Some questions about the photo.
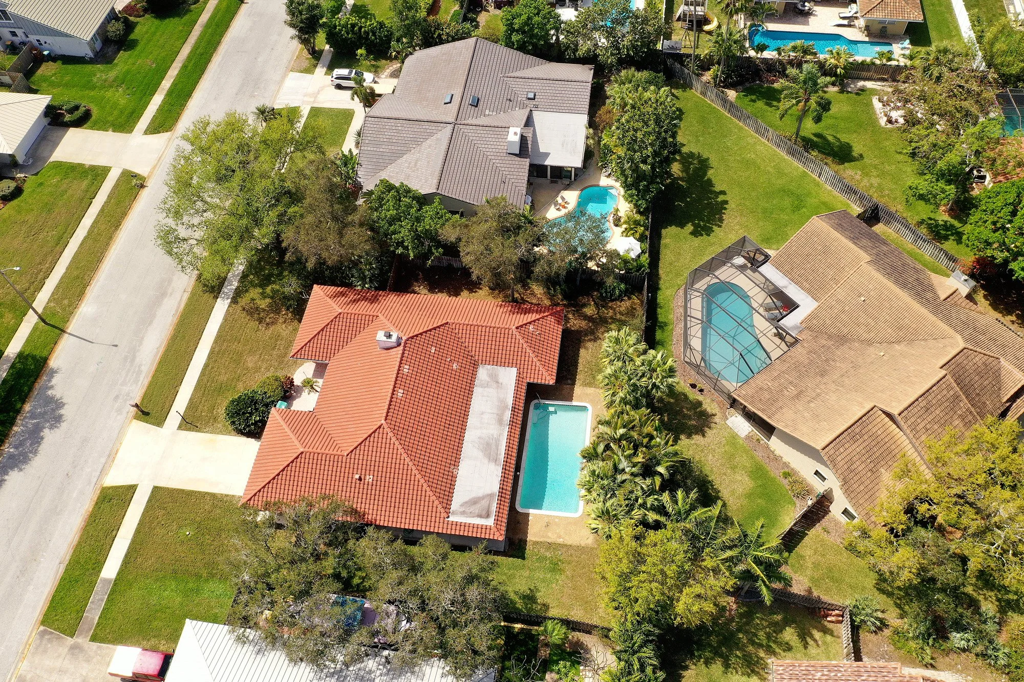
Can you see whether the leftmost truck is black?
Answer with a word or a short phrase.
No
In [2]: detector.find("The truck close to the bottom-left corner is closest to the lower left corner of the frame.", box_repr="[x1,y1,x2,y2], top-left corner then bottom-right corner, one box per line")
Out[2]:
[105,646,175,682]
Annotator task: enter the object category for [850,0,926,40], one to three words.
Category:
building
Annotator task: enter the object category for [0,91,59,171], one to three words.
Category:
house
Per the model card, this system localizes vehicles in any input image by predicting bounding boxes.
[105,646,175,682]
[327,69,376,93]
